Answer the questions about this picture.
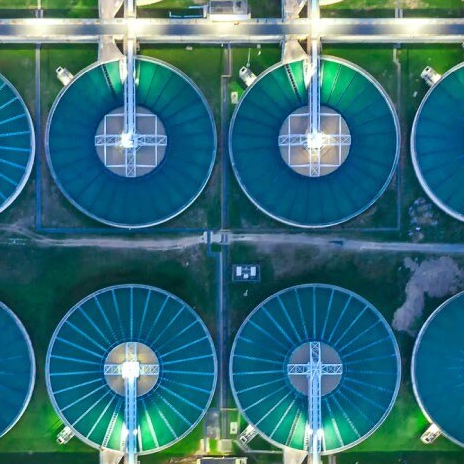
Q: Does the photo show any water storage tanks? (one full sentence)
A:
Yes, looking at the shot, I can spot a water storage tank.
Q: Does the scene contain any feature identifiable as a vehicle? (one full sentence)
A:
No, no vehicle can be seen from above.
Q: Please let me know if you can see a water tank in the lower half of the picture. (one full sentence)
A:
Yes, a water tank can be seen in the lower half of the picture.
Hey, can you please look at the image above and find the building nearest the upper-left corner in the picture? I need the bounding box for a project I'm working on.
[206,0,251,19]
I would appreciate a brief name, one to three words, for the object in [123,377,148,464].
bridge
